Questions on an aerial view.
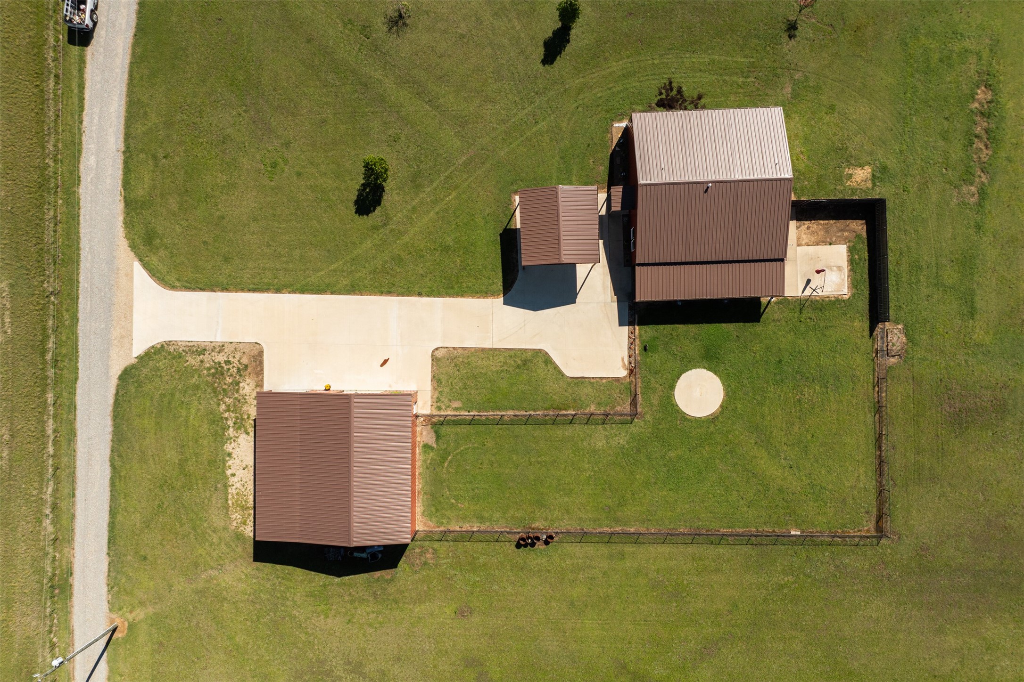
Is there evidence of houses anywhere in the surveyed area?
Yes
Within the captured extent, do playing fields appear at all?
No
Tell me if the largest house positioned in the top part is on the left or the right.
right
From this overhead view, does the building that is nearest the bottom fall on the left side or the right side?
left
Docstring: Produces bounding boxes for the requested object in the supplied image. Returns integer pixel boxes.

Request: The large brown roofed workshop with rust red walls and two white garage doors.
[254,389,418,547]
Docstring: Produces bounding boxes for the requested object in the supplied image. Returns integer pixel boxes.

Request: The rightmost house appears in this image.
[608,106,793,303]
